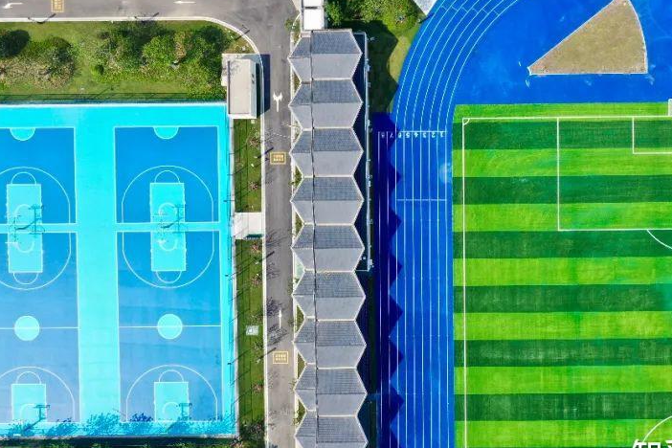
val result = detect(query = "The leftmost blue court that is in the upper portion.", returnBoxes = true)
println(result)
[0,127,76,223]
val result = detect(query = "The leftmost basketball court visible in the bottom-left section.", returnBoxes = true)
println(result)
[0,232,80,422]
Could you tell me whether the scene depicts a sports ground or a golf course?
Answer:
sports ground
